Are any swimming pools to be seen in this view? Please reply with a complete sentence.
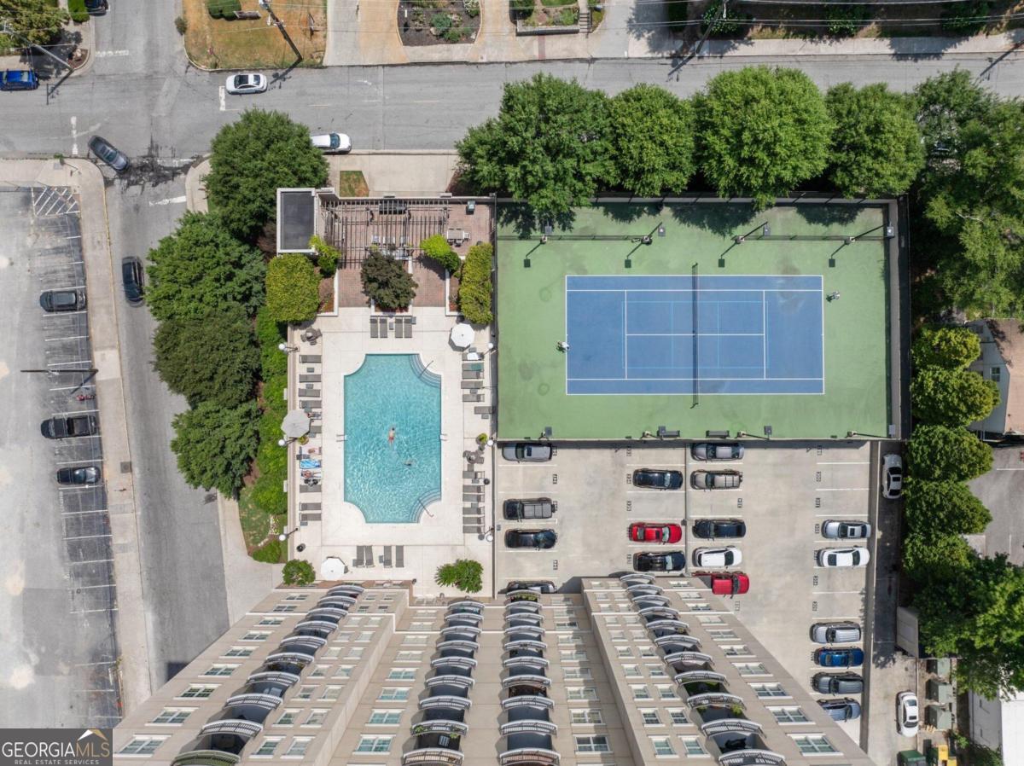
Yes, this view includes a swimming pool.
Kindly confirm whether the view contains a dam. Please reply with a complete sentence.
No, no dam is visible in the scene.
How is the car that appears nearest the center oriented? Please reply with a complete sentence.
In this picture, the car that appears nearest the center is oriented from left to right.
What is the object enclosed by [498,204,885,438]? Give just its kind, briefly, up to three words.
tennis court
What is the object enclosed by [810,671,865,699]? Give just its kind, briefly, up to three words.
car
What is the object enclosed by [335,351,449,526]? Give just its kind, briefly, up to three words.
swimming pool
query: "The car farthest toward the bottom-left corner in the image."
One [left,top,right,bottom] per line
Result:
[57,466,103,486]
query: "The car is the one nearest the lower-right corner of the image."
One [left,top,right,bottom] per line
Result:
[896,690,922,736]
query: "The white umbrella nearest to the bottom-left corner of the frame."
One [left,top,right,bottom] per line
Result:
[323,555,346,578]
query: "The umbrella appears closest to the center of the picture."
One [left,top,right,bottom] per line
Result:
[452,324,474,347]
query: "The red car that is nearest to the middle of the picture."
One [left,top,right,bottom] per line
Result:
[629,523,681,546]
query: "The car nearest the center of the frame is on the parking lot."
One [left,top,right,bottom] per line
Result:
[502,442,553,466]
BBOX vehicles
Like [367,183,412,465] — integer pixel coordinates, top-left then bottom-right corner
[318,131,352,153]
[816,546,869,571]
[226,71,269,95]
[809,621,863,647]
[41,289,88,311]
[685,572,747,599]
[629,523,681,546]
[692,546,741,571]
[121,257,147,304]
[812,645,863,671]
[816,697,861,724]
[691,441,743,464]
[506,576,557,595]
[504,498,555,523]
[57,466,103,486]
[42,415,100,438]
[502,442,553,466]
[810,671,865,699]
[690,470,742,493]
[819,519,871,543]
[506,528,556,552]
[880,453,905,499]
[692,518,745,543]
[632,469,683,492]
[896,690,922,736]
[87,134,132,173]
[634,550,685,576]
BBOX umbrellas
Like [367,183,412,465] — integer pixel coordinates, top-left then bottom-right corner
[283,410,311,438]
[452,324,474,347]
[323,555,346,578]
